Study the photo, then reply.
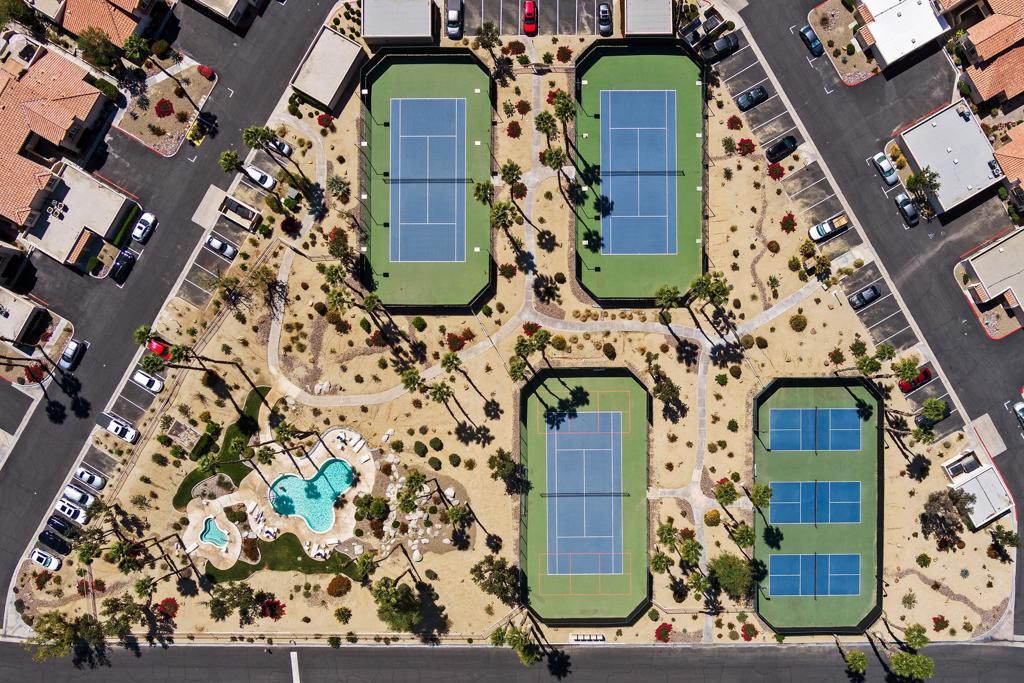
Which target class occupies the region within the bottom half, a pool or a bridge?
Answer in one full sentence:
Visible within the bottom half is a pool.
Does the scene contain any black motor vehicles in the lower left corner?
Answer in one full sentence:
Yes, a black motor vehicle can be seen in the lower left corner.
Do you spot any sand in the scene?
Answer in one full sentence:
Yes, some sand is visible.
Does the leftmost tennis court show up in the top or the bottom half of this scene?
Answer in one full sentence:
Seen from above, the leftmost tennis court lies in the top half of the view.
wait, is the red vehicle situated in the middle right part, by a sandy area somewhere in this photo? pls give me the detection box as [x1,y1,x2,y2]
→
[897,368,932,394]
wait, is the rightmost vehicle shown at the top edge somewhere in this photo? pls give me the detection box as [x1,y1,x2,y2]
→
[799,24,825,58]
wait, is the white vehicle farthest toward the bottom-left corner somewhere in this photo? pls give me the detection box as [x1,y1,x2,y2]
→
[29,546,64,571]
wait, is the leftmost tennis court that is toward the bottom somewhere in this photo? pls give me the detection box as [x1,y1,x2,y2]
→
[522,369,648,618]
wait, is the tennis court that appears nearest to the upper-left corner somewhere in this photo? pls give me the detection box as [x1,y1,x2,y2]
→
[366,55,489,304]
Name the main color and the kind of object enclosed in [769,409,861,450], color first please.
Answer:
blue sports court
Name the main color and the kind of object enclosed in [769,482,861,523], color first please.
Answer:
blue sports court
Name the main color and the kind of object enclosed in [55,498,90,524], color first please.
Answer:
white car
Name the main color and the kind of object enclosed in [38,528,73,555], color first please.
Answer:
black car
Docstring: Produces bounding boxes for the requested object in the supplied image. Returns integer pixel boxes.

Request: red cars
[897,368,932,394]
[143,339,174,362]
[523,0,538,35]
